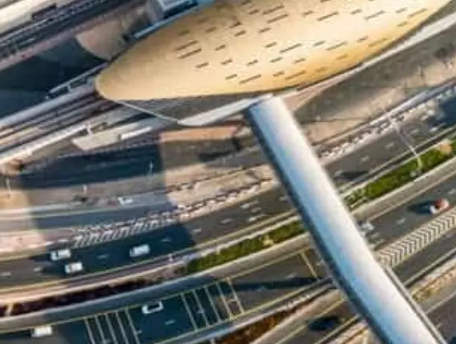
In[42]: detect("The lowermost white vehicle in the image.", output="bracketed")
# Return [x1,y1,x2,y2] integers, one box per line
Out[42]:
[28,323,55,339]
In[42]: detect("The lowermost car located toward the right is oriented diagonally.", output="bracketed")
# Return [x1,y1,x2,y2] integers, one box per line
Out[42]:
[317,313,341,331]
